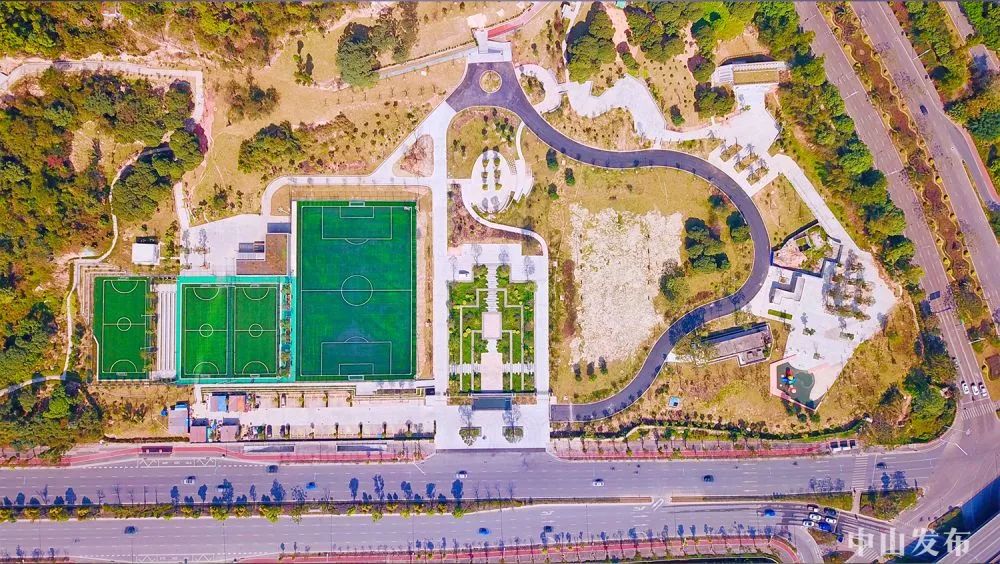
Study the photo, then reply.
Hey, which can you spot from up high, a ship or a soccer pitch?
soccer pitch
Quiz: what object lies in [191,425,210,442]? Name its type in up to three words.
shed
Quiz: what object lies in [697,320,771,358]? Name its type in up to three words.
building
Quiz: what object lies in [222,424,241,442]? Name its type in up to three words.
shed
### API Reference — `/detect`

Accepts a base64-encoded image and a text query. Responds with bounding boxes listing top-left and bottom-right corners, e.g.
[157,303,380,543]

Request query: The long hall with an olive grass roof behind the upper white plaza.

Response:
[717,62,788,87]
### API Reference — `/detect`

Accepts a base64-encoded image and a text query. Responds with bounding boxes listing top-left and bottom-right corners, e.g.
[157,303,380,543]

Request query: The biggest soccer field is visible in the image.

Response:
[295,202,417,381]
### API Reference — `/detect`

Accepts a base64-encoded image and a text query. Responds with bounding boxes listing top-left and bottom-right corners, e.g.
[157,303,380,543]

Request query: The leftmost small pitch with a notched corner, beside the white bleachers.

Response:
[94,276,149,380]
